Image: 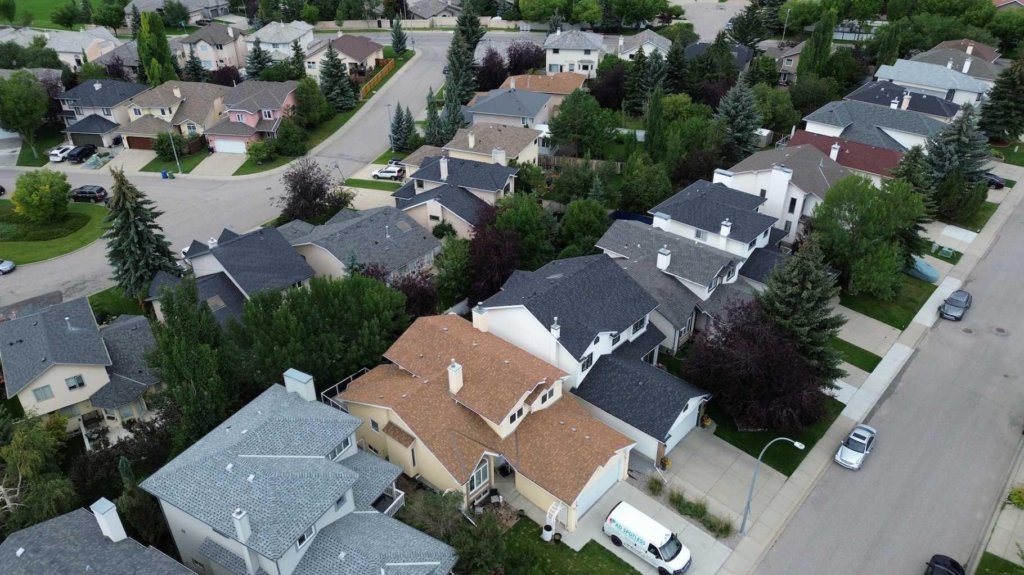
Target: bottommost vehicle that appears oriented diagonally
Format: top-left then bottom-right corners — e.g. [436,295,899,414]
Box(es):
[594,501,694,575]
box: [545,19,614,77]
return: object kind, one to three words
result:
house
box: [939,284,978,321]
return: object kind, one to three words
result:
car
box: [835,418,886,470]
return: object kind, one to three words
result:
car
